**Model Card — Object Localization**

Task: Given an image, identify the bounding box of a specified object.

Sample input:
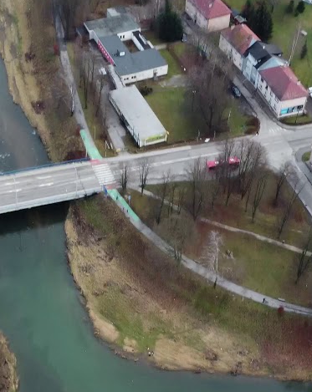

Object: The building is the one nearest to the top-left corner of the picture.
[77,7,168,85]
